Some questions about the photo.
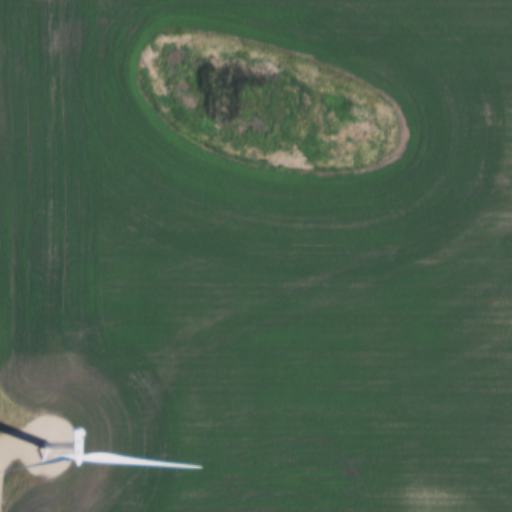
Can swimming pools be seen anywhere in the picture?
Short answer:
No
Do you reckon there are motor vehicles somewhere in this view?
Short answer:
No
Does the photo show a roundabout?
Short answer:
No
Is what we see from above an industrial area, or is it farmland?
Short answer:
farmland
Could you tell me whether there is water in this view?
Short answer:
No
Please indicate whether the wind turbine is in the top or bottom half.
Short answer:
bottom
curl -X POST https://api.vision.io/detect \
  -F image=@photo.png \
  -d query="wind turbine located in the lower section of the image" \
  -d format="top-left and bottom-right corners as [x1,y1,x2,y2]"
[0,427,202,474]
